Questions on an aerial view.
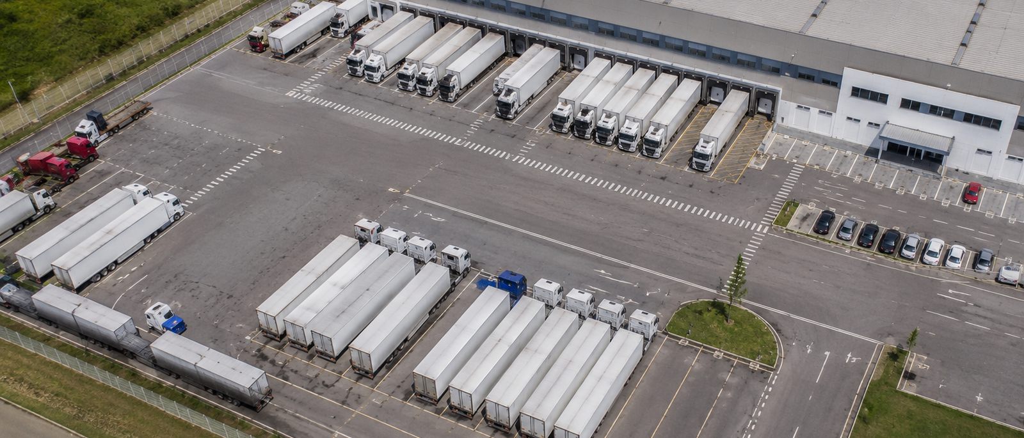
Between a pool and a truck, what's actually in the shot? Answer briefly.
truck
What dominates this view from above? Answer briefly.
paved ground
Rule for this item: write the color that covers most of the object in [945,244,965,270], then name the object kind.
white car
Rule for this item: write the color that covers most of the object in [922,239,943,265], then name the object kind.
white car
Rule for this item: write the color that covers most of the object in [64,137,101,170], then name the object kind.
red truck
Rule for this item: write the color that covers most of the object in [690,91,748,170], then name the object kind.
white truck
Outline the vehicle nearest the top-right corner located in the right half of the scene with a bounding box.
[963,181,980,204]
